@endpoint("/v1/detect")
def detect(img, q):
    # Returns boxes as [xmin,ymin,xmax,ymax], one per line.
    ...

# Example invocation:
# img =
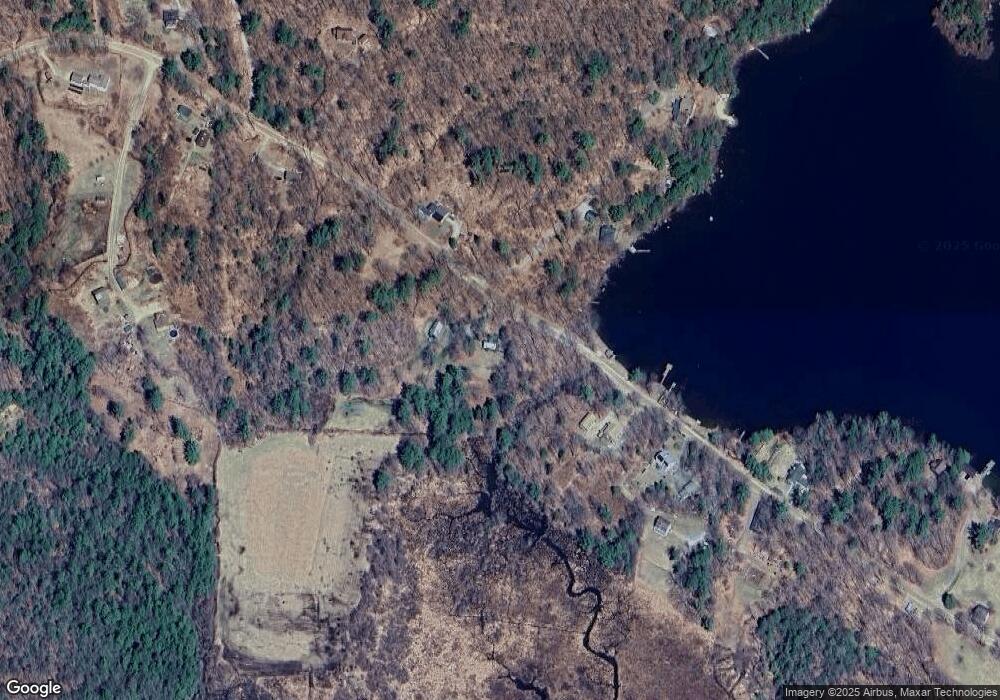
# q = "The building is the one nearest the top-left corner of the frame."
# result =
[72,70,108,90]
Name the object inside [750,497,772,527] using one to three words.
building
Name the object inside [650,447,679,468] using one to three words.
house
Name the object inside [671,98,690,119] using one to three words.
house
